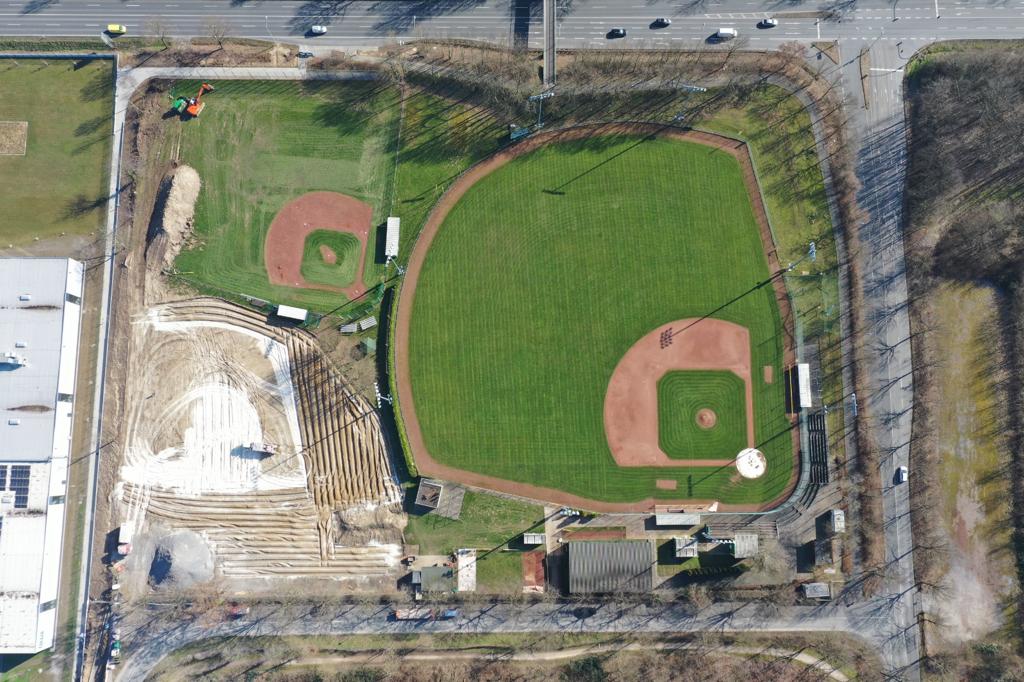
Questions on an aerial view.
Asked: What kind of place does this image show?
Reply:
sports ground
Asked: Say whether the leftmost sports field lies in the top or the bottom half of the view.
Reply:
top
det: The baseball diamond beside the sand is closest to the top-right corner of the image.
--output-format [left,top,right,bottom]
[395,124,800,513]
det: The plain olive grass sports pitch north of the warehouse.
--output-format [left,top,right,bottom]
[0,58,113,246]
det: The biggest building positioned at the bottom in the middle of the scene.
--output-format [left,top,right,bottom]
[570,541,654,595]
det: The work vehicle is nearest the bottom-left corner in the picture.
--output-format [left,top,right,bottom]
[115,543,133,555]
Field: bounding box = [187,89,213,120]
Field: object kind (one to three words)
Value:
work vehicle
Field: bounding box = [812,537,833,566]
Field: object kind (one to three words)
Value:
shed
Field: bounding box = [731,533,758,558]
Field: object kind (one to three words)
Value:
building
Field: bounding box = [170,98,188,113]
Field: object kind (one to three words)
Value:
vehicle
